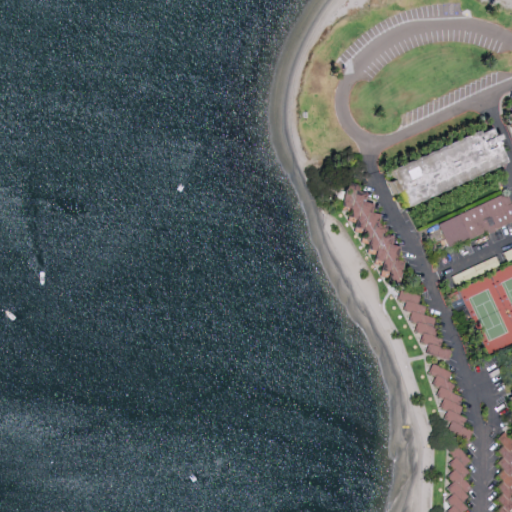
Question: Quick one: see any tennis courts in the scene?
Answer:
Yes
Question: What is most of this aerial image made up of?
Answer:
water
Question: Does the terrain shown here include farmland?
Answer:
No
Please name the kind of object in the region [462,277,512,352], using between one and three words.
tennis court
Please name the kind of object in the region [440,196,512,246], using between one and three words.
building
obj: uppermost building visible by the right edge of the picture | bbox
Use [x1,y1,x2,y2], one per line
[390,128,510,206]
